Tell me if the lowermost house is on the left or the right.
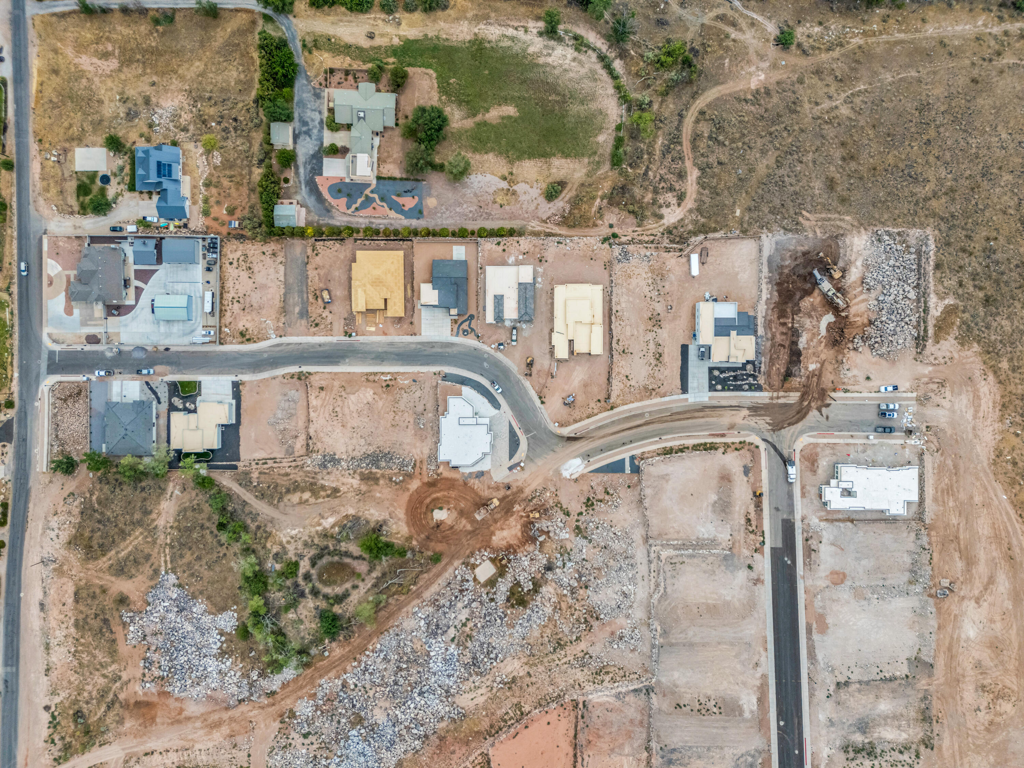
right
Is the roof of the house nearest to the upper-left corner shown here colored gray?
No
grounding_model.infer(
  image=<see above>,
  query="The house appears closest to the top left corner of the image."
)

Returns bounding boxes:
[134,143,190,220]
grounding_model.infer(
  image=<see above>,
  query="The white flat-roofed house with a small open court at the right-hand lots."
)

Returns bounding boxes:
[819,463,918,514]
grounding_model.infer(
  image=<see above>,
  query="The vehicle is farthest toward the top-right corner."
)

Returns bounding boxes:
[818,250,843,280]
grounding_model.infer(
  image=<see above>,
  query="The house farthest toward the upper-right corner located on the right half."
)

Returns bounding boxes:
[694,302,755,363]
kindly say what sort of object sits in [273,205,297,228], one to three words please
shed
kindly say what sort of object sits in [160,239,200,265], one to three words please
building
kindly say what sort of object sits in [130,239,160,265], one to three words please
shed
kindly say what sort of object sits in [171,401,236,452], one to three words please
house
